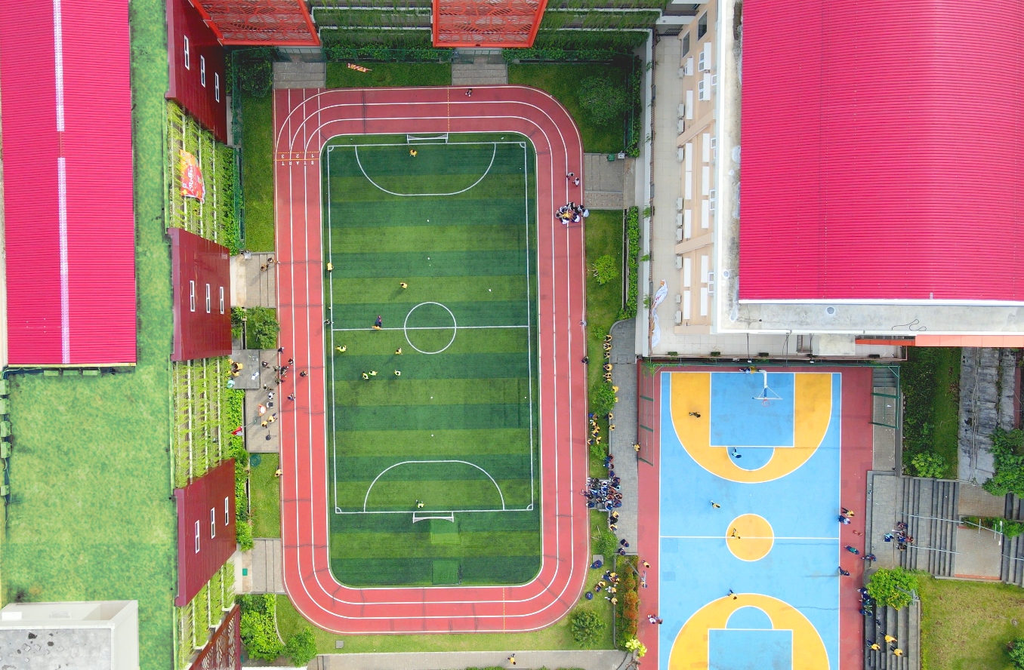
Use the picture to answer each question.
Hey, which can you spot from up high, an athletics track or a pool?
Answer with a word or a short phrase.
athletics track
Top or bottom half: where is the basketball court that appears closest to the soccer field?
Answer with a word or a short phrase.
bottom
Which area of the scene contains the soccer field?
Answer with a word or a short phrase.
center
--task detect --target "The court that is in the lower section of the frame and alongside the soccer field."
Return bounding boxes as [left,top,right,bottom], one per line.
[638,361,873,670]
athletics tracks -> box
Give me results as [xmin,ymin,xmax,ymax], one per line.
[274,84,592,636]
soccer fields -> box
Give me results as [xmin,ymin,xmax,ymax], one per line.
[321,132,541,587]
